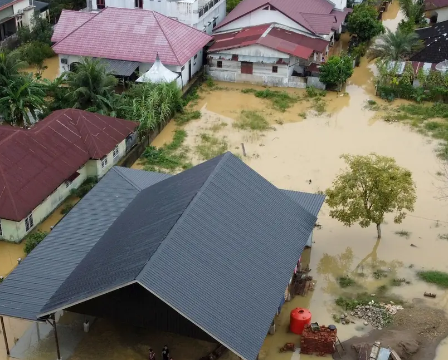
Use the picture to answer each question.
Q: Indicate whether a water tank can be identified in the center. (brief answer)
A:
No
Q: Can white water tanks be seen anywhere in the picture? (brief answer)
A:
No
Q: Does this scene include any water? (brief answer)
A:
Yes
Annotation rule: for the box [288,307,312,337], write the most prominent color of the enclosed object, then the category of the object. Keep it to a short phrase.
red water tank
